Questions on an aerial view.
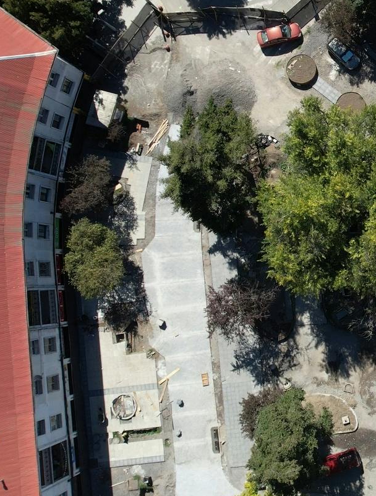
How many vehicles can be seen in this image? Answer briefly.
3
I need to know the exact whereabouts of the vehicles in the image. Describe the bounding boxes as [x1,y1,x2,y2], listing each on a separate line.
[324,34,362,68]
[314,448,368,480]
[255,21,302,46]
